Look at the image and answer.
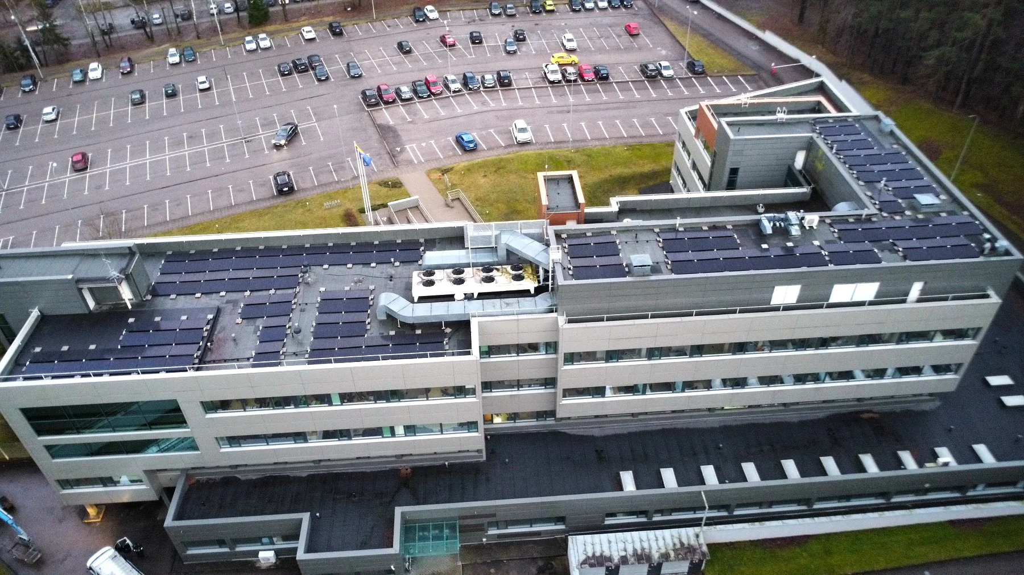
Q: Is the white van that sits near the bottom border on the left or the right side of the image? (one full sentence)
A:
The white van that sits near the bottom border appears in the left half of the scene.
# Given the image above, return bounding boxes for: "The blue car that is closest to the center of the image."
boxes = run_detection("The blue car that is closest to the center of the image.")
[455,132,478,154]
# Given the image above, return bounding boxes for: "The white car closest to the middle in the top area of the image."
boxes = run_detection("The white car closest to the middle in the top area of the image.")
[512,119,531,143]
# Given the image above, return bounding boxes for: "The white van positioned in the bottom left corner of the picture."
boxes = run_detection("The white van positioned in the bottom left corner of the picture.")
[90,535,141,575]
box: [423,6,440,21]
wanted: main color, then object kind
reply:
white car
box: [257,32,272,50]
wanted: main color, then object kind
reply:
white car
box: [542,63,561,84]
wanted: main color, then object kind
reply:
white vehicle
